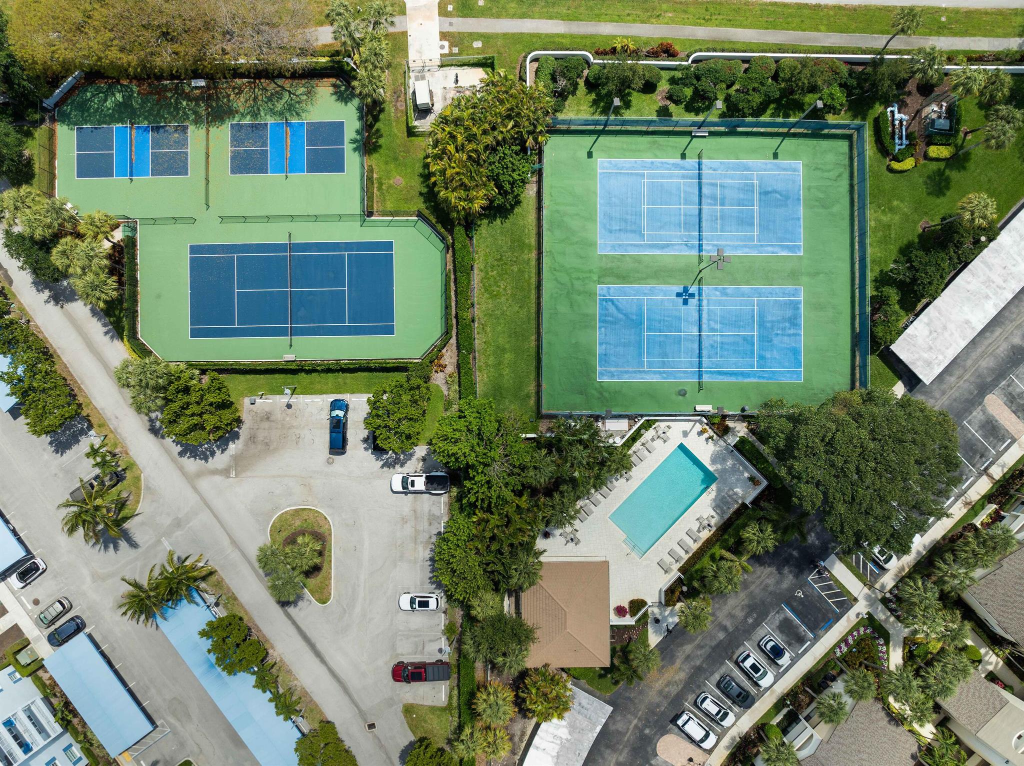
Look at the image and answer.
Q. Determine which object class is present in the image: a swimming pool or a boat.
swimming pool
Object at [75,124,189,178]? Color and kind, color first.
blue sports court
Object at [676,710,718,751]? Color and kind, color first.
white car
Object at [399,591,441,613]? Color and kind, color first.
white car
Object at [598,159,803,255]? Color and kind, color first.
blue tennis court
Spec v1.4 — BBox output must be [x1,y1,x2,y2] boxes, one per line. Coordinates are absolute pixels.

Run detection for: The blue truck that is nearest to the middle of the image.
[327,399,349,452]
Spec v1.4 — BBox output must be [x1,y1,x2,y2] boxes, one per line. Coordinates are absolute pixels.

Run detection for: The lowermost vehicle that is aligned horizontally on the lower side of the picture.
[394,660,450,684]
